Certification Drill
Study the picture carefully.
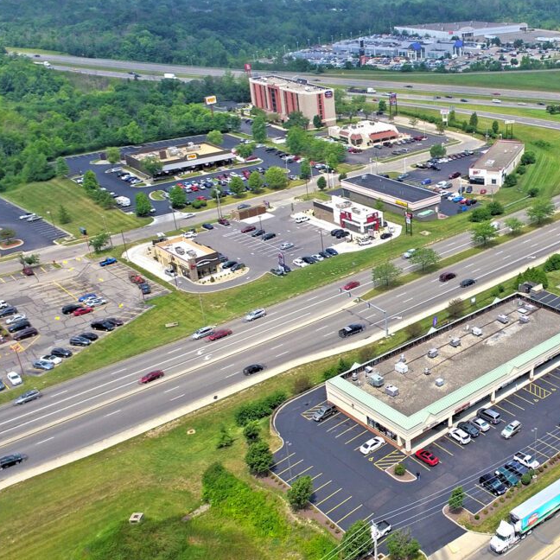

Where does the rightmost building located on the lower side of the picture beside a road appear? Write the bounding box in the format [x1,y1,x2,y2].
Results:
[329,287,560,457]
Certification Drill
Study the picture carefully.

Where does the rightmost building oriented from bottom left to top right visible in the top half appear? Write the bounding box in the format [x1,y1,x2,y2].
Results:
[470,141,535,186]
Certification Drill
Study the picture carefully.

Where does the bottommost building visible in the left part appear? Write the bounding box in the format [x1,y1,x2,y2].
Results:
[152,234,223,282]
